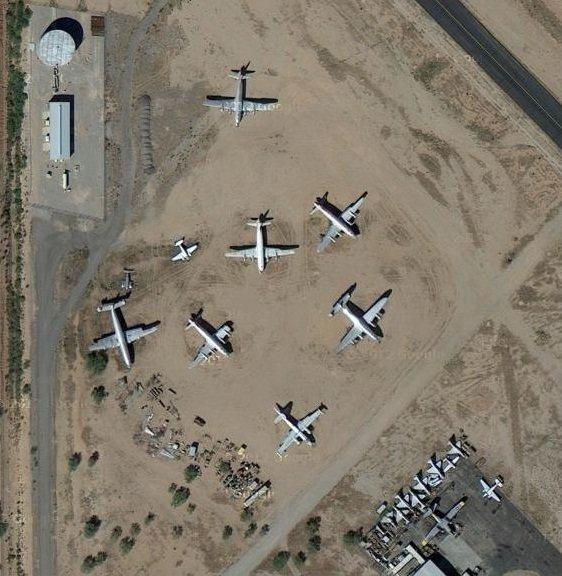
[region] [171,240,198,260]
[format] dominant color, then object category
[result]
white airplane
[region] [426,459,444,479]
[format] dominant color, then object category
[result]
white airplane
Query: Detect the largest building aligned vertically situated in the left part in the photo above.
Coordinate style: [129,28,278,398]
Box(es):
[48,102,69,159]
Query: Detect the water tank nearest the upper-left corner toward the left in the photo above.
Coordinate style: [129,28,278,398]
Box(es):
[37,29,74,67]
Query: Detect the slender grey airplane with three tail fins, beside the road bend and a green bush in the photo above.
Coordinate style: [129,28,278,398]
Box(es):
[86,299,156,367]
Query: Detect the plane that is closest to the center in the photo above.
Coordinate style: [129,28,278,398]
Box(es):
[226,219,296,273]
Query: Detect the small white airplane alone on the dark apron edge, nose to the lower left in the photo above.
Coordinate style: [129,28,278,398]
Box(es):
[480,479,503,502]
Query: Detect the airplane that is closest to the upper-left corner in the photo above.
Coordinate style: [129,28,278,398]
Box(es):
[200,72,278,126]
